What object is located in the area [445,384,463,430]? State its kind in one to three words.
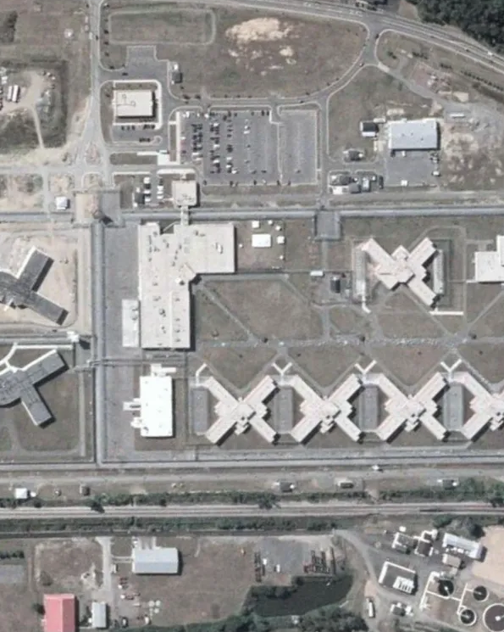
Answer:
sports court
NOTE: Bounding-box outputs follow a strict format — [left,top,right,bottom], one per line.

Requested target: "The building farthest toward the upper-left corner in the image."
[114,89,153,116]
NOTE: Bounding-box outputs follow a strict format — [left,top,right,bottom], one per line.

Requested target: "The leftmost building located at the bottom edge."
[42,593,74,632]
